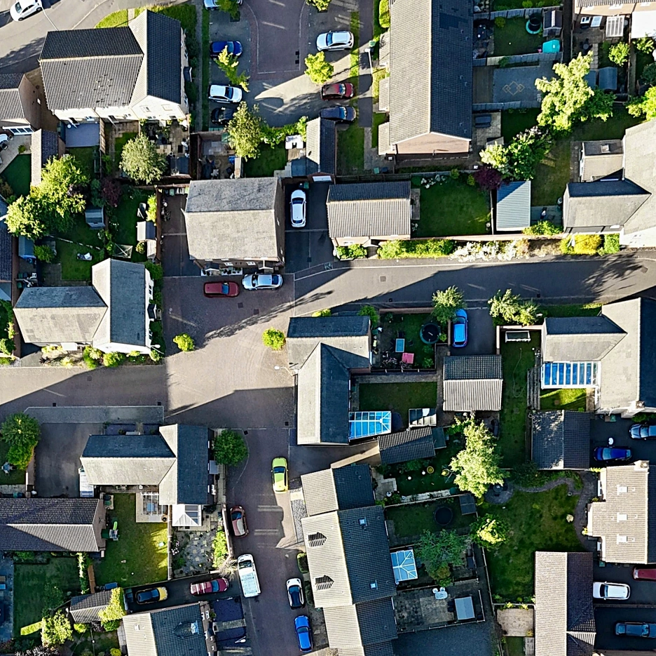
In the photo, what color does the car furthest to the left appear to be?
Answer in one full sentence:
The car furthest to the left looks white in the image.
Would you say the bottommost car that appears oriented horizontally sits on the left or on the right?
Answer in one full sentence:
The bottommost car that appears oriented horizontally sits on the right side.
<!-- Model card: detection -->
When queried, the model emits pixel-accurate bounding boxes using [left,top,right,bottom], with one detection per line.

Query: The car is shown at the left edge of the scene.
[12,0,41,21]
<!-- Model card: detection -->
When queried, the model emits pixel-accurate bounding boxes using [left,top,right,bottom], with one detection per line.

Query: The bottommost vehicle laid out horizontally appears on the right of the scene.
[615,619,656,639]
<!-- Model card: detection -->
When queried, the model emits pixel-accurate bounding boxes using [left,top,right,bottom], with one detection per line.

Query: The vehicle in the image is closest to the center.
[243,272,282,291]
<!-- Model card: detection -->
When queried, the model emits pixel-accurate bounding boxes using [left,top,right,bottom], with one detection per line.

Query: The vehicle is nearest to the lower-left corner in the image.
[134,586,165,603]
